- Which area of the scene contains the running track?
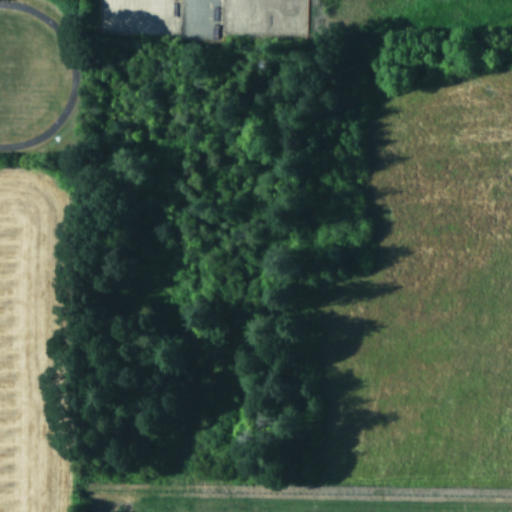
top left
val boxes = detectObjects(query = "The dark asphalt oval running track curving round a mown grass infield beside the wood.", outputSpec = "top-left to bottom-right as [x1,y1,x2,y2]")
[0,0,80,152]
